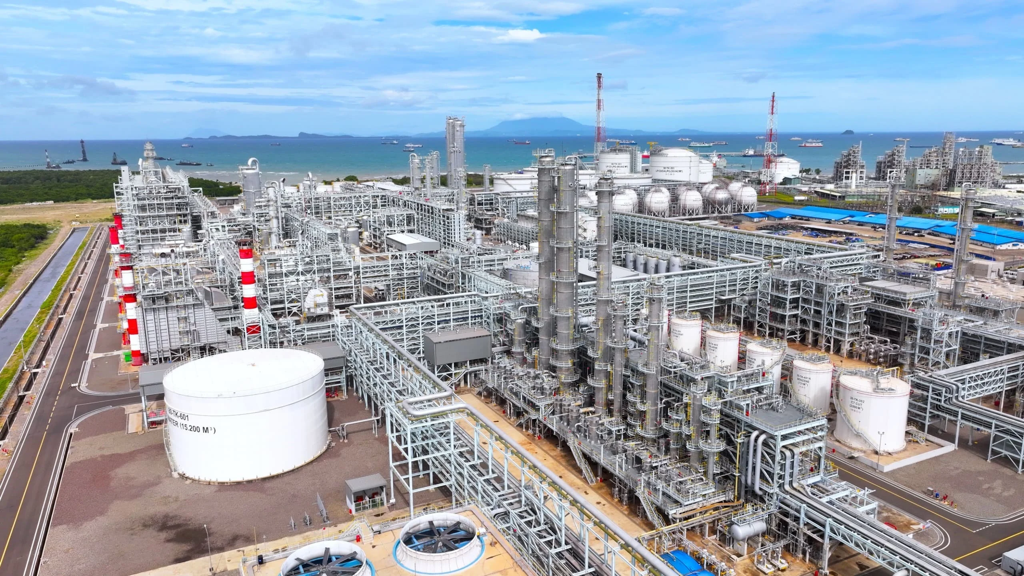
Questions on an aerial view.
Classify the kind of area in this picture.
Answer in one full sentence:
The picture captures an industrial area.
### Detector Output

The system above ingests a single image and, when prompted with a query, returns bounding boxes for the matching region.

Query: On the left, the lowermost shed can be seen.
[340,461,389,513]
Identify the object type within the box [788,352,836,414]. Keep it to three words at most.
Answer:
storage tank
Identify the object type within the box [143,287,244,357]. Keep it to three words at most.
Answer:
building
